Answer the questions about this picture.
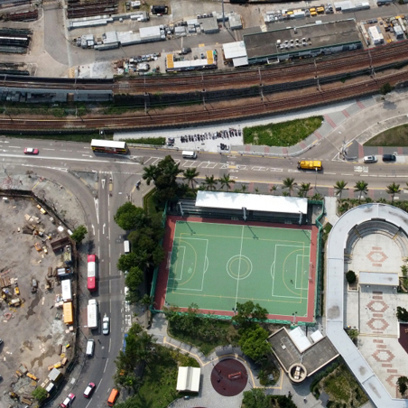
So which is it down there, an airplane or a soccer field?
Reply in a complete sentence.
It is a soccer field that can be seen here.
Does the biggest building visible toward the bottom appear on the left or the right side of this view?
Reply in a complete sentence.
It is on the right.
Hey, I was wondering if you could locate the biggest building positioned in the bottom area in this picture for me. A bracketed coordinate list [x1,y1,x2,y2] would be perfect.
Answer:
[268,328,338,386]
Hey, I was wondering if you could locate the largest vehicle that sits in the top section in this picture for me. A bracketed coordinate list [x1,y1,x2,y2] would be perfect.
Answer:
[90,141,127,154]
